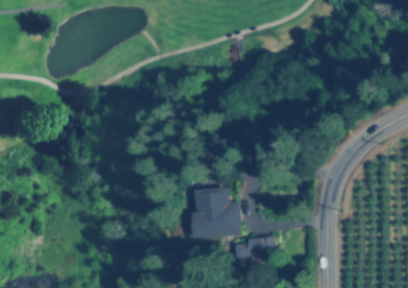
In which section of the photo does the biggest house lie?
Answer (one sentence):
You can find the biggest house in the bottom area of the picture.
